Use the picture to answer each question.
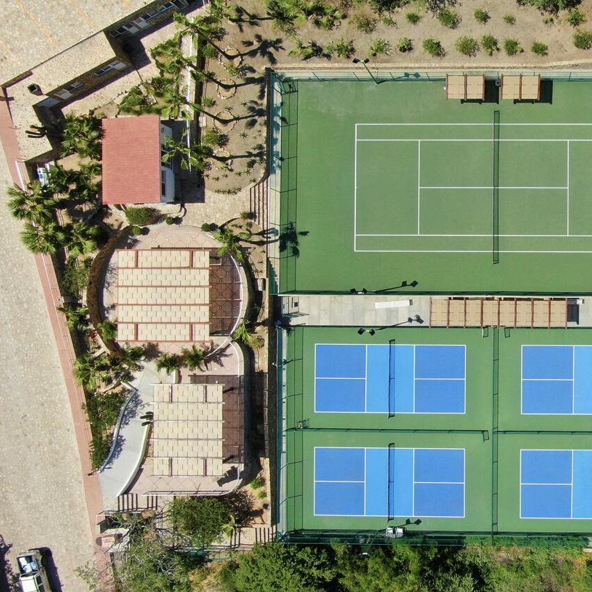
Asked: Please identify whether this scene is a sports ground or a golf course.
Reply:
sports ground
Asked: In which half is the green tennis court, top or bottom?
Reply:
top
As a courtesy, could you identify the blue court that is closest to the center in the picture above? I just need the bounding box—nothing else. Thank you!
[314,344,466,414]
